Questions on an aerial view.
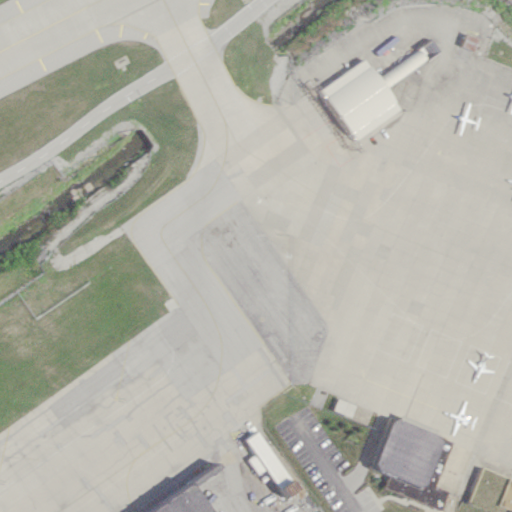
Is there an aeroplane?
Yes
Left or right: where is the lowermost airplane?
right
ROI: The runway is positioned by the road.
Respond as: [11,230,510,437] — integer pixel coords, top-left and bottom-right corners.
[0,0,215,100]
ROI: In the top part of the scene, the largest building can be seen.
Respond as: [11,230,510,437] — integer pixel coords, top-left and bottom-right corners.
[320,61,404,142]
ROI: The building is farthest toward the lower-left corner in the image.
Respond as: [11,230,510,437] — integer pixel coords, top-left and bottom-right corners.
[140,466,224,512]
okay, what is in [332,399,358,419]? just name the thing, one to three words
building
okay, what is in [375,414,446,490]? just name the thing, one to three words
building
